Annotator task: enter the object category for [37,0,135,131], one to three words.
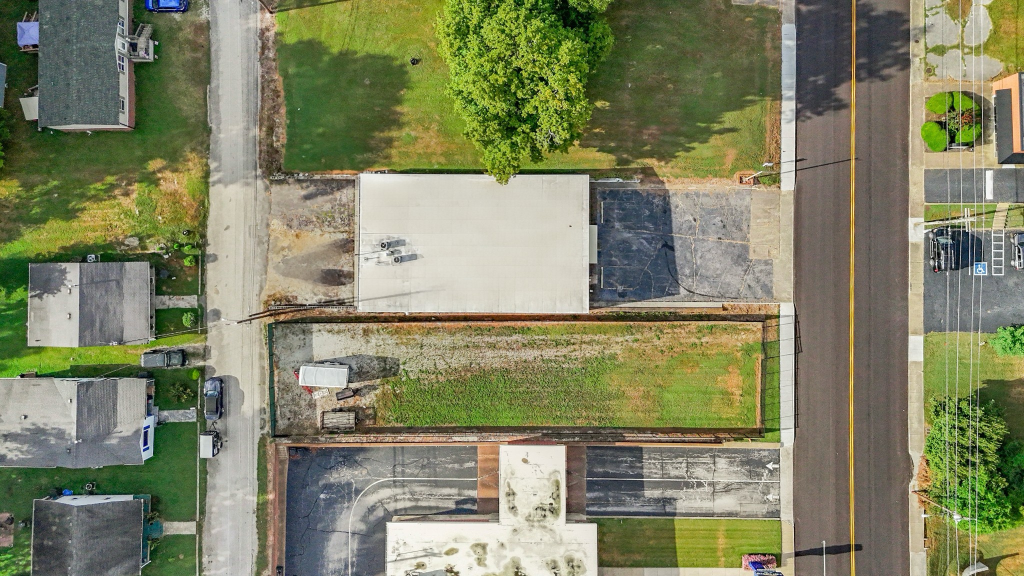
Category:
house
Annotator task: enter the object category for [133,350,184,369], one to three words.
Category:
car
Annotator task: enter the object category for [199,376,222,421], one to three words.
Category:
car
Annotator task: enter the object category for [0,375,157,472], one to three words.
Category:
house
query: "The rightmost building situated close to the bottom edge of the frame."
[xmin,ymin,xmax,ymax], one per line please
[385,444,598,576]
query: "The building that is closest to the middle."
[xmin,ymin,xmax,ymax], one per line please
[354,174,597,316]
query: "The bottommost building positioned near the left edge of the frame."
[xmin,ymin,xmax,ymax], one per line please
[32,494,163,576]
